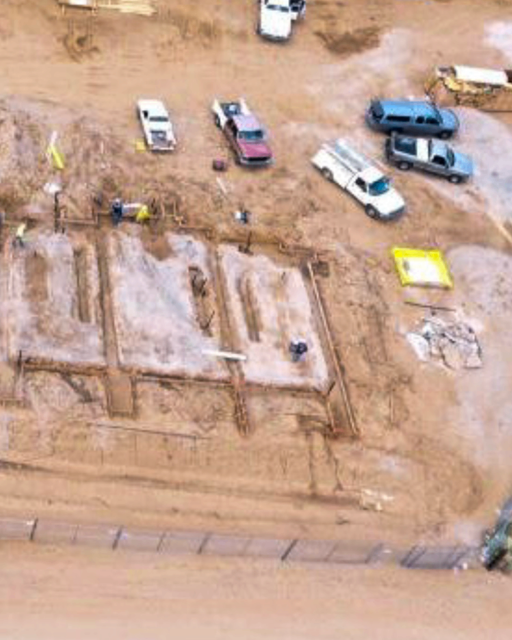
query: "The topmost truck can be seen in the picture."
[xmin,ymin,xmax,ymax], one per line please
[257,0,309,41]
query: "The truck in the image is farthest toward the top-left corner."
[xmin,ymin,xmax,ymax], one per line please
[133,101,177,153]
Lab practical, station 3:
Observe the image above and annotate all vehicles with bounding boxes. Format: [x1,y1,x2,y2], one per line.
[257,0,309,41]
[211,98,274,170]
[315,137,408,223]
[365,94,462,136]
[133,101,177,153]
[384,130,477,182]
